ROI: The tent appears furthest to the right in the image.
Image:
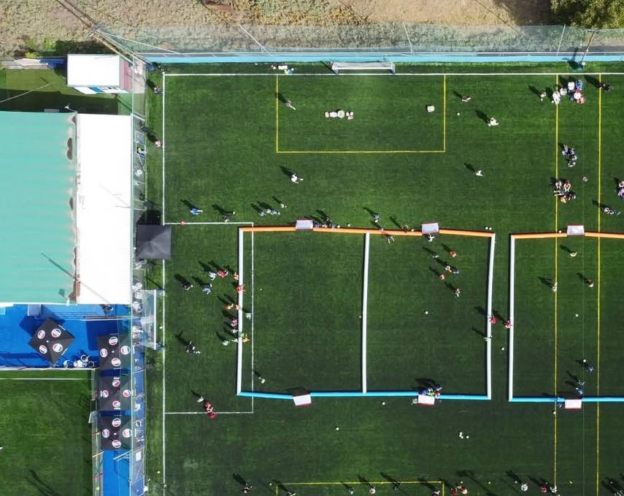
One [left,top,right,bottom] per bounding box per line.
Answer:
[137,225,179,260]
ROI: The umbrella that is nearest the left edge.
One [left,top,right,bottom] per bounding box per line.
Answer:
[30,317,75,363]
